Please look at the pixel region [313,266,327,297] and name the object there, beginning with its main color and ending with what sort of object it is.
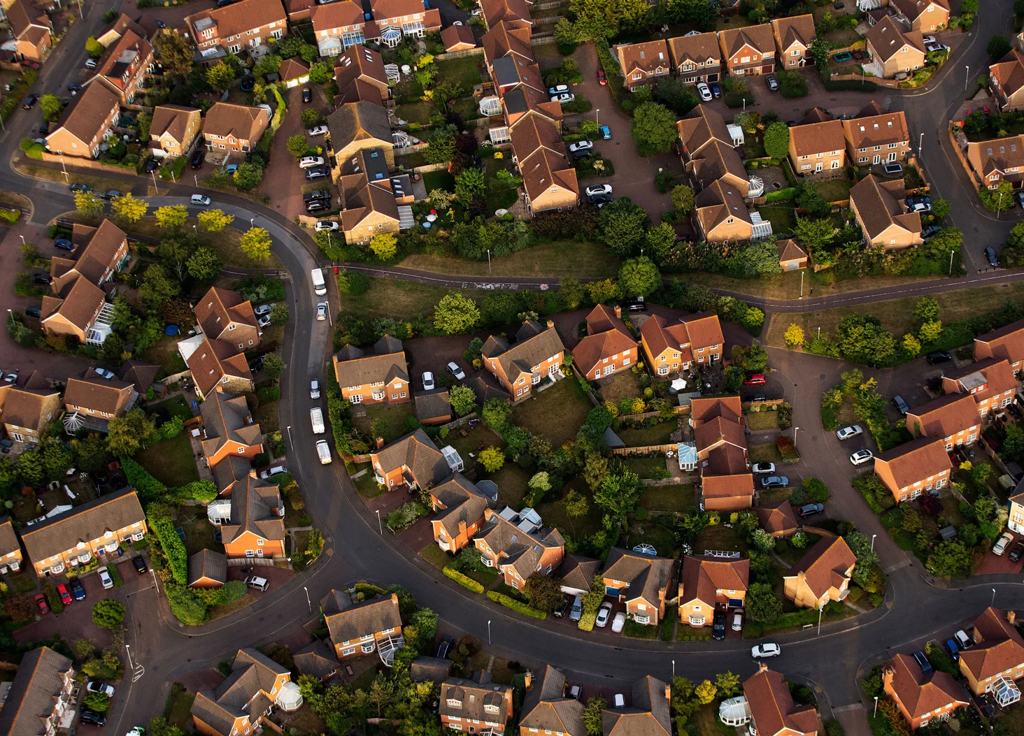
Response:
white vehicle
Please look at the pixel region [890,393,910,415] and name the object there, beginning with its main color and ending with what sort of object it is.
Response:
black car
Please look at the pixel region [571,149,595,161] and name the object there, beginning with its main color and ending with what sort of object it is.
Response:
black vehicle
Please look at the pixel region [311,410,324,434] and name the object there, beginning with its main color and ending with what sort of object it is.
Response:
white vehicle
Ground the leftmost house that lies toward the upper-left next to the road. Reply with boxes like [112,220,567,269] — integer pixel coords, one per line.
[2,0,50,61]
